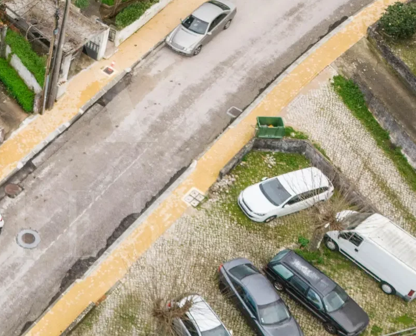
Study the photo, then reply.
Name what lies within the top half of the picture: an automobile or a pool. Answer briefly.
automobile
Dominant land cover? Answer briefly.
paved ground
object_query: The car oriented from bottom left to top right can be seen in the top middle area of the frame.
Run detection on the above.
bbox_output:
[168,0,238,58]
